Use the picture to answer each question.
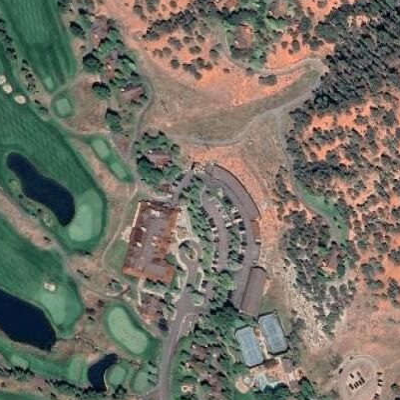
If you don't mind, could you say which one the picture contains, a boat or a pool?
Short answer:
pool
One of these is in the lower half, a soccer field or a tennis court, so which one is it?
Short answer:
tennis court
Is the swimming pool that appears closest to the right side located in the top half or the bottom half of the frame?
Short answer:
bottom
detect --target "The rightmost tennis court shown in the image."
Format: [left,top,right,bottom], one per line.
[259,313,289,355]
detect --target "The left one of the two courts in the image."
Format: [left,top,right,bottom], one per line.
[236,326,265,368]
